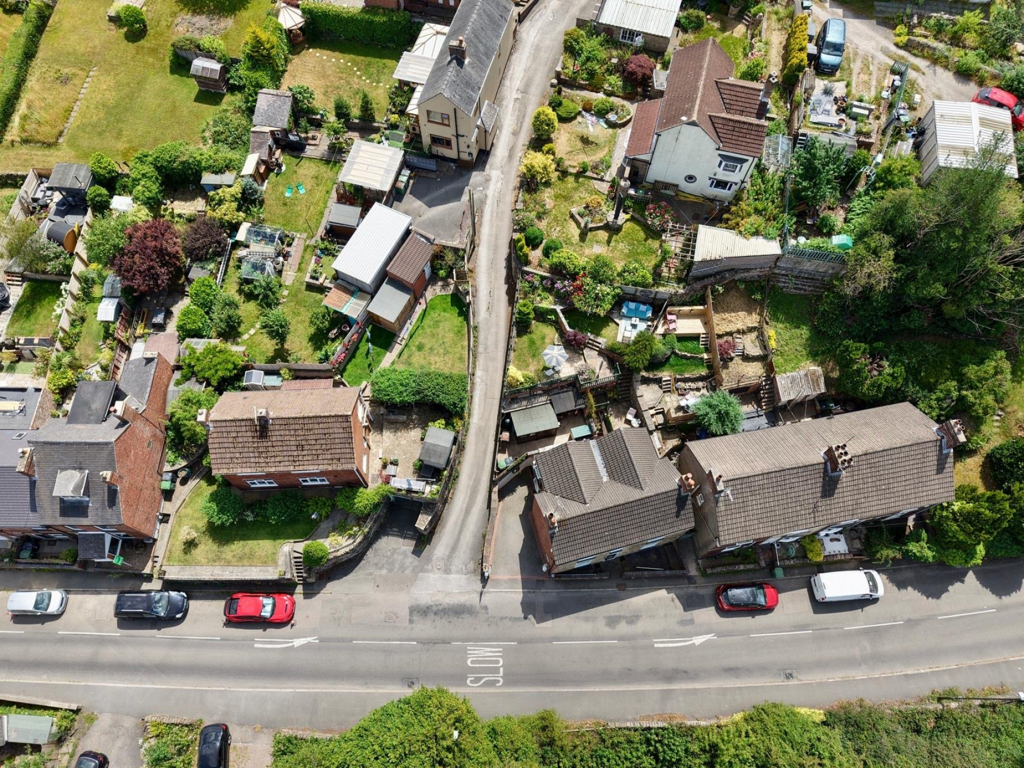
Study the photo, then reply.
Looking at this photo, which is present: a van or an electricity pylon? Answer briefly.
van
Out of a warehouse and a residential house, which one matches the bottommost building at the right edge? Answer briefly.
residential house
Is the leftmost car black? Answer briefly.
No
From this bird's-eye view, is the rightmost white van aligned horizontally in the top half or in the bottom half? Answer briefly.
bottom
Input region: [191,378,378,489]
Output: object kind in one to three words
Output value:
house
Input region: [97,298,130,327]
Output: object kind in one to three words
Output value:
shed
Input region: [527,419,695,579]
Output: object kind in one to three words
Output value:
house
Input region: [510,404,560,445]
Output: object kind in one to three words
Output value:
shed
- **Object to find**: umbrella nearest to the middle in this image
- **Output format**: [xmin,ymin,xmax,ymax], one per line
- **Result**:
[542,343,570,371]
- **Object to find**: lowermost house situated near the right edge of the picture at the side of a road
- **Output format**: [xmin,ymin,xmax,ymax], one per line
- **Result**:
[680,403,974,556]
